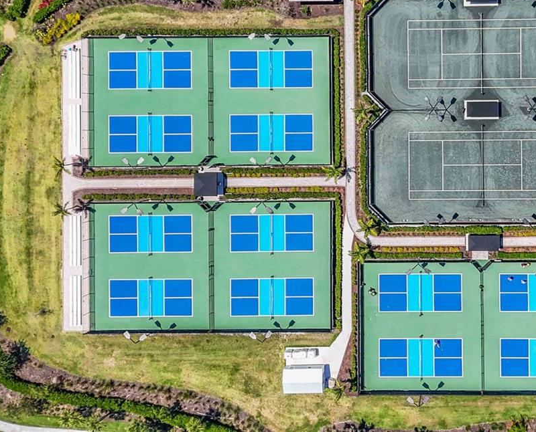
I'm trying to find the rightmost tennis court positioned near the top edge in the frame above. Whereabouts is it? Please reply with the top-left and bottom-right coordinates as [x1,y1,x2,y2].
[371,0,536,110]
